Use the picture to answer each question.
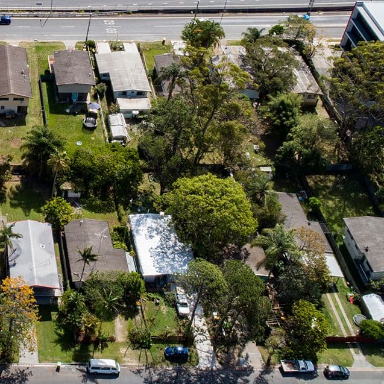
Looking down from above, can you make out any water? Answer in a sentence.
No, the picture contains no water.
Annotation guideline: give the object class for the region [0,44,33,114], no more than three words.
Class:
house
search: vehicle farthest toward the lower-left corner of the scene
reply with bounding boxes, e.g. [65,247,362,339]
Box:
[87,358,120,375]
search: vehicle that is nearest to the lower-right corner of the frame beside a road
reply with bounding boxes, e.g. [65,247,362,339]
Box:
[322,364,352,379]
